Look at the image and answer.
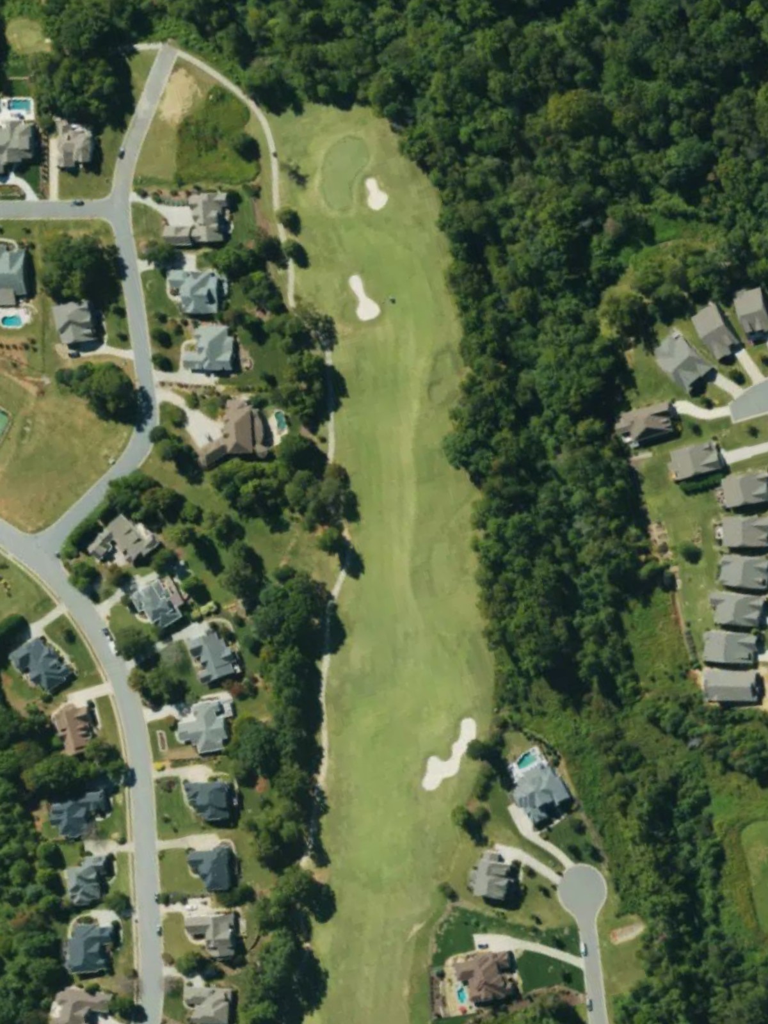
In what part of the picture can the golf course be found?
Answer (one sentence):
The golf course is in the center part of the image.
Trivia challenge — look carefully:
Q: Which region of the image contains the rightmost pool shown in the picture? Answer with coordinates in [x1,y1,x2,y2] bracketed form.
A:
[517,750,536,769]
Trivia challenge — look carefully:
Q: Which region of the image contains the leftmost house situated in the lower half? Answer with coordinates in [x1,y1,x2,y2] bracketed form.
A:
[9,636,71,694]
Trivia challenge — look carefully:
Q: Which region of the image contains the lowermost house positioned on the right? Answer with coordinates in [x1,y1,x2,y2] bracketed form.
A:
[454,947,517,1002]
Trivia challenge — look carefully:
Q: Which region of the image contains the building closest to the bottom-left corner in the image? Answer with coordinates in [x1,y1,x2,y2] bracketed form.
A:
[53,983,114,1024]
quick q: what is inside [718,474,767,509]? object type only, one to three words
house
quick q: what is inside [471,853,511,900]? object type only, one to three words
house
